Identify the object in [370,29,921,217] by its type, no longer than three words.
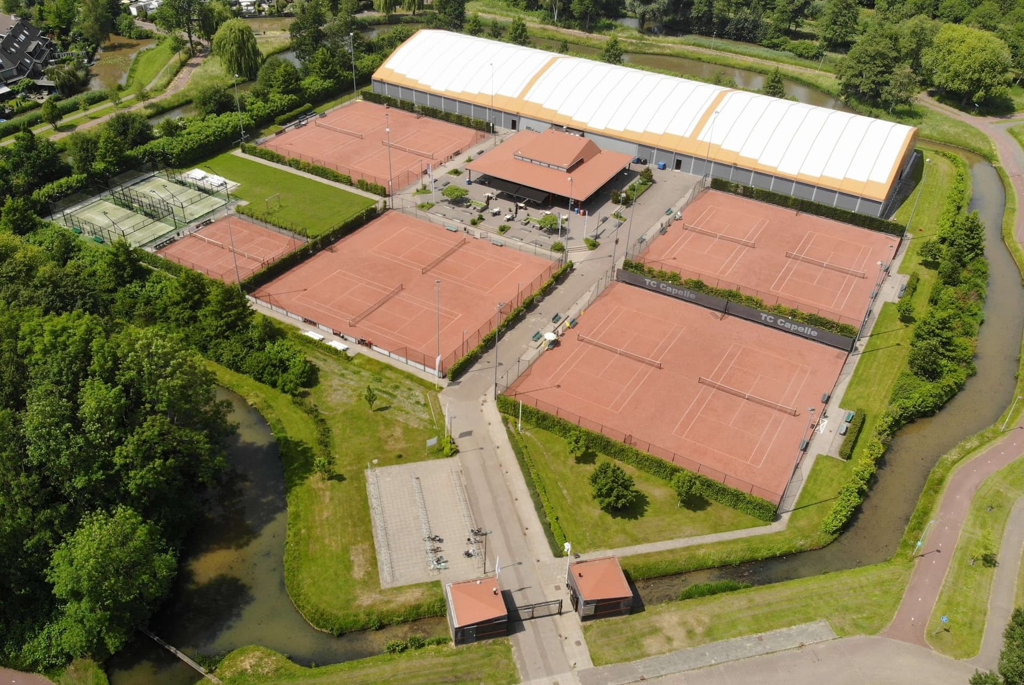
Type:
building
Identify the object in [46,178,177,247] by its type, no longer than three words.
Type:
sports court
